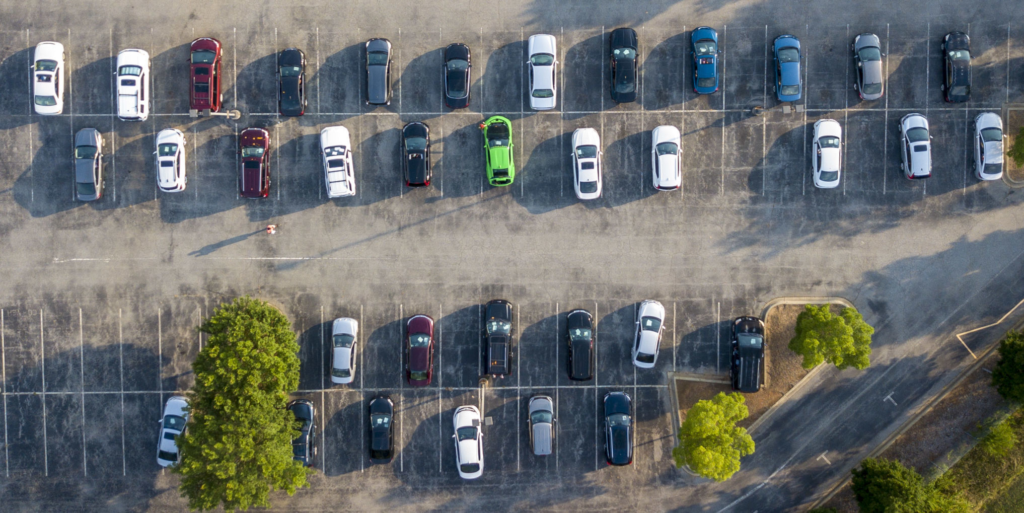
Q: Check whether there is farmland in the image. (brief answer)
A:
No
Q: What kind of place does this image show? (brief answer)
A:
parking lot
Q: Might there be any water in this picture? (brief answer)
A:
No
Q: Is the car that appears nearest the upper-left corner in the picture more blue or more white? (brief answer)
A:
white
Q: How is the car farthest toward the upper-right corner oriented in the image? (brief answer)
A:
from top to bottom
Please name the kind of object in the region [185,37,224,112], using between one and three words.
car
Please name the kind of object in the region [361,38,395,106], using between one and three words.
car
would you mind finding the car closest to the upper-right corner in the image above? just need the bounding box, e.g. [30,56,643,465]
[939,31,977,102]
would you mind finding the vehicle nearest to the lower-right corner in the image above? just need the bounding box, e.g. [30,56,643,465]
[731,315,768,394]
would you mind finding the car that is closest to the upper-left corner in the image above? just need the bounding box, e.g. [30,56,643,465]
[28,41,68,115]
